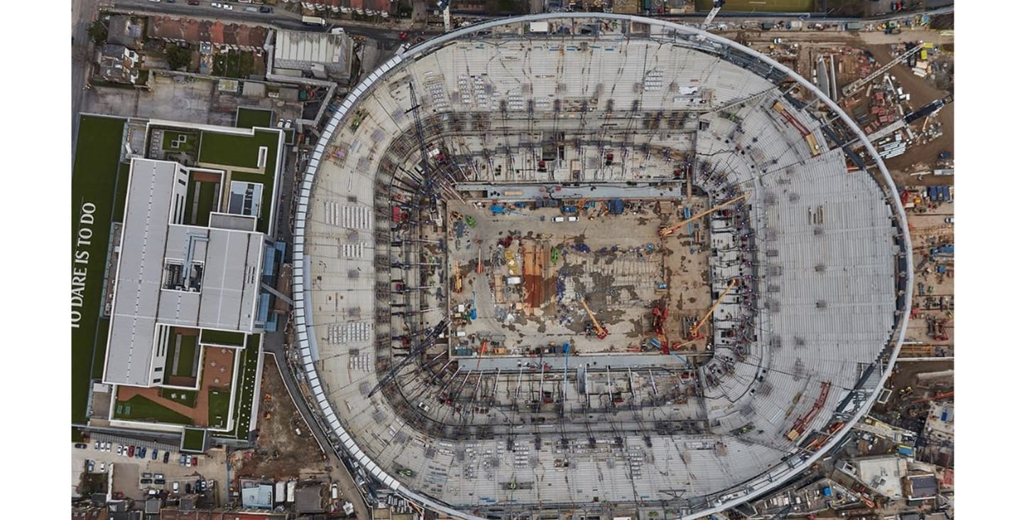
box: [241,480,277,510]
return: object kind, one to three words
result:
building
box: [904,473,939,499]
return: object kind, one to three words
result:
house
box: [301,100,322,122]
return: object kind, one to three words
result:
building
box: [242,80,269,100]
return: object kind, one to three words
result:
shed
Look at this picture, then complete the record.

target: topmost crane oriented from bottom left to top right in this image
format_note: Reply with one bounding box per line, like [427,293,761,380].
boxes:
[686,0,725,43]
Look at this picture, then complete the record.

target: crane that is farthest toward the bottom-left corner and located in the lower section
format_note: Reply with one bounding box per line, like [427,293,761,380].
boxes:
[368,309,462,396]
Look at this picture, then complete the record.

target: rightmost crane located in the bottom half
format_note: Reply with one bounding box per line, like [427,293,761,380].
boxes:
[842,417,920,463]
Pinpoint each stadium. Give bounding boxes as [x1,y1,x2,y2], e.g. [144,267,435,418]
[292,11,915,520]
